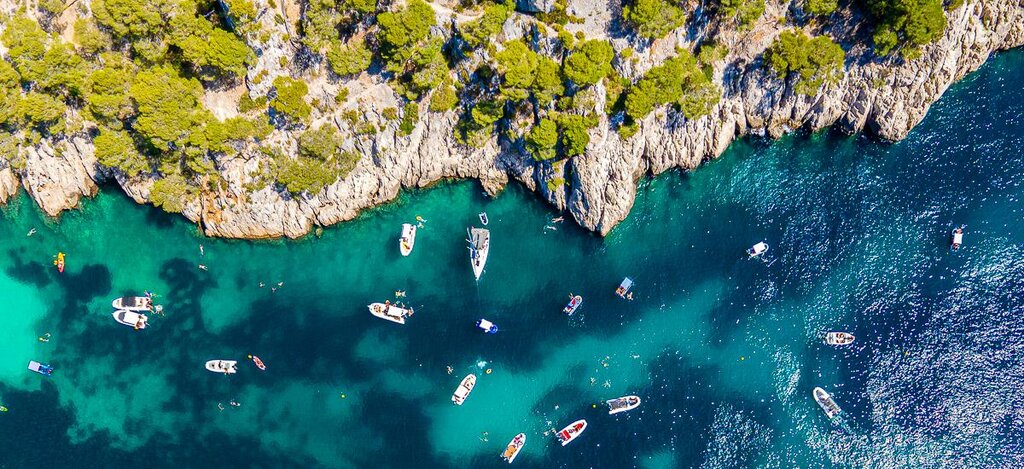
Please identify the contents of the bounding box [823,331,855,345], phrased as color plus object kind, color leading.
white boat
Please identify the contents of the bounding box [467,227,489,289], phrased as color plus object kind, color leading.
white boat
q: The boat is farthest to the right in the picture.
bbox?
[950,229,964,252]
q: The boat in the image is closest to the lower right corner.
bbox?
[815,388,841,418]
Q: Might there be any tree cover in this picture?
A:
Yes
